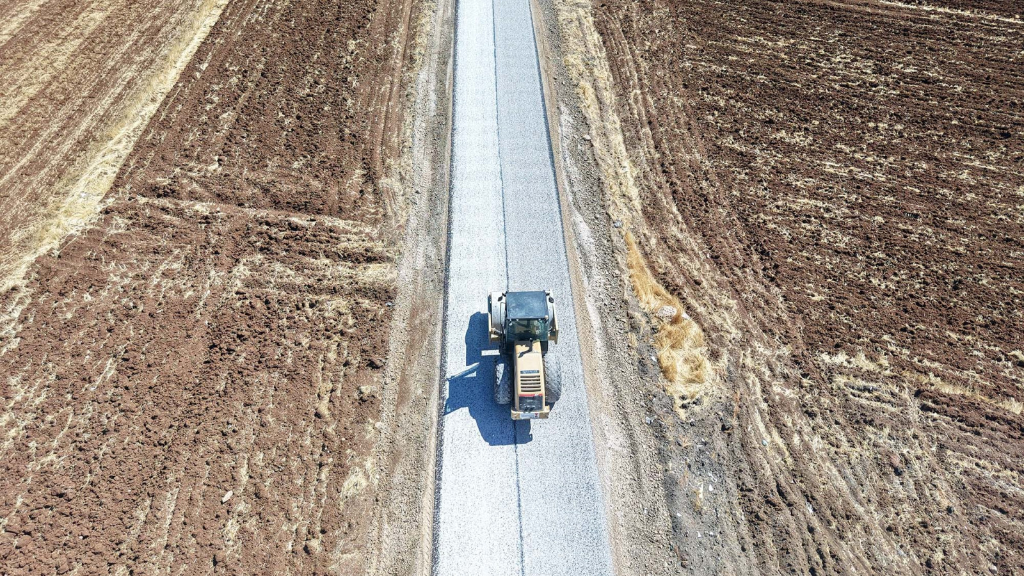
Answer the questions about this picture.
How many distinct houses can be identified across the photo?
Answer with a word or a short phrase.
zero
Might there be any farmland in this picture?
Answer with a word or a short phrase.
Yes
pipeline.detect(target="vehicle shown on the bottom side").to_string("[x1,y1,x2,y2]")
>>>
[490,287,562,421]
